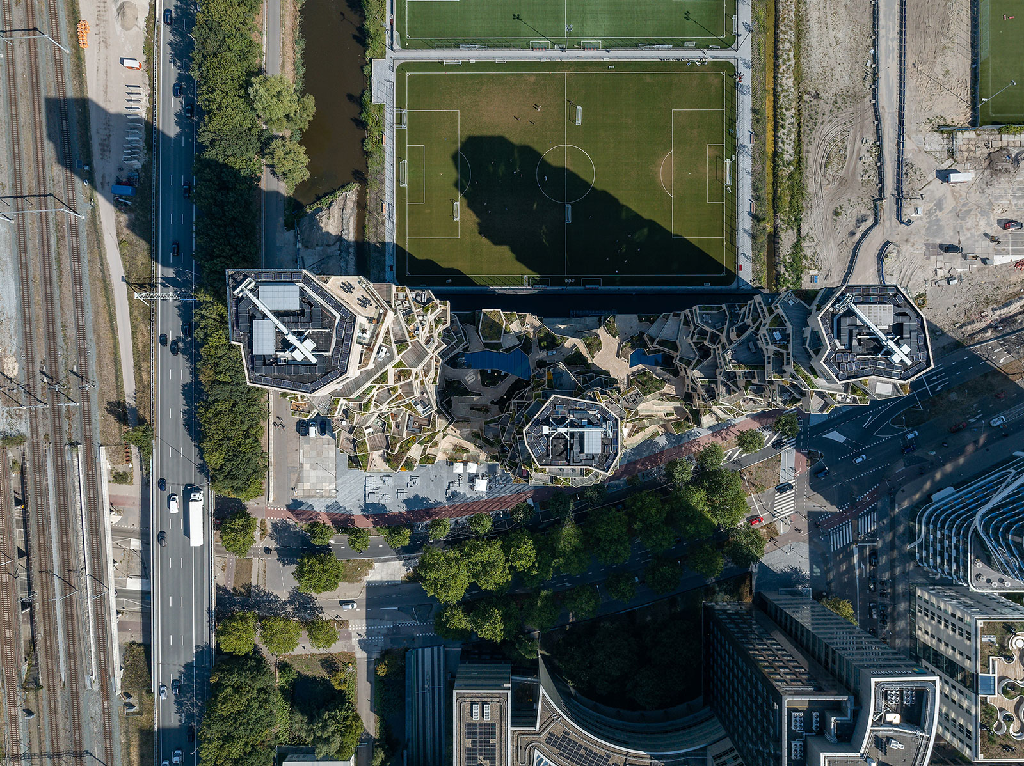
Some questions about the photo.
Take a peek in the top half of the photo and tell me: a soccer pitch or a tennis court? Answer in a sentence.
The feature located in the top half of the photo is a soccer pitch.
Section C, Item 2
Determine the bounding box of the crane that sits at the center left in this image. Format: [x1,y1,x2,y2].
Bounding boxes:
[231,276,318,363]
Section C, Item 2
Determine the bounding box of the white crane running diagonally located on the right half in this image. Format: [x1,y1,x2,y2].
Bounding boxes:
[834,292,914,366]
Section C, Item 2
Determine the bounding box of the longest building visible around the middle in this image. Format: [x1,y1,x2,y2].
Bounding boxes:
[225,268,934,486]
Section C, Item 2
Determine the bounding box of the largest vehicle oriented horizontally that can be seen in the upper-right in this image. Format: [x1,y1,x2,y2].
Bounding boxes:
[943,171,974,183]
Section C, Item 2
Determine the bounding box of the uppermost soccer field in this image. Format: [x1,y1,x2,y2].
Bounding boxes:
[396,0,736,48]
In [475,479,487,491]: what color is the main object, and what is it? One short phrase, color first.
white umbrella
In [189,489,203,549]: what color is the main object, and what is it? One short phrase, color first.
white vehicle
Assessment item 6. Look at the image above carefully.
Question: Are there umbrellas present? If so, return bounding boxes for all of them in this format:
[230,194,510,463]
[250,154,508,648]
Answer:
[475,479,487,491]
[467,463,477,473]
[453,463,463,472]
